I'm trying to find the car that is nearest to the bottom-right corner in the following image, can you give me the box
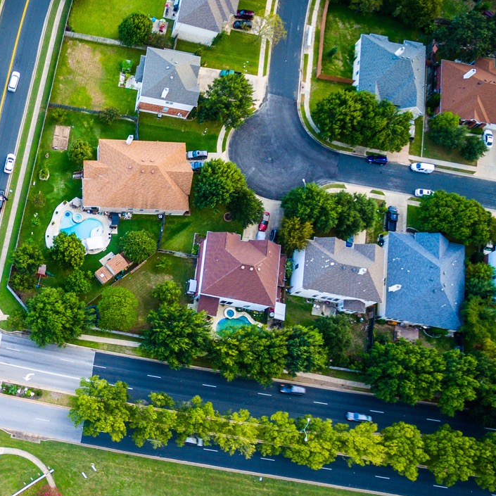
[345,410,371,422]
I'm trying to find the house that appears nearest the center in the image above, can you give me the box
[194,231,286,317]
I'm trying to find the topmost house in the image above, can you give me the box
[174,0,239,45]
